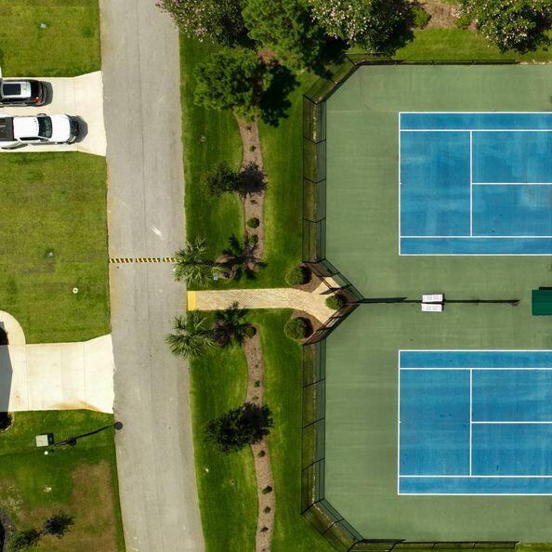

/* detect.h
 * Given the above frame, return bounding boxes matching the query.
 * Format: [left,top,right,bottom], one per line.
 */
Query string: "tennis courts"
[316,63,552,300]
[314,300,552,542]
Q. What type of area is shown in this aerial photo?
sports ground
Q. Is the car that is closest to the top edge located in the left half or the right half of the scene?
left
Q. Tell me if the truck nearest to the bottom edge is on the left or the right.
left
